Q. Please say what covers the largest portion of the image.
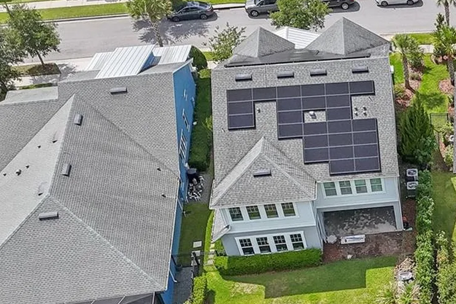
buildings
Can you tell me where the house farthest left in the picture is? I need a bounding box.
[0,47,204,304]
